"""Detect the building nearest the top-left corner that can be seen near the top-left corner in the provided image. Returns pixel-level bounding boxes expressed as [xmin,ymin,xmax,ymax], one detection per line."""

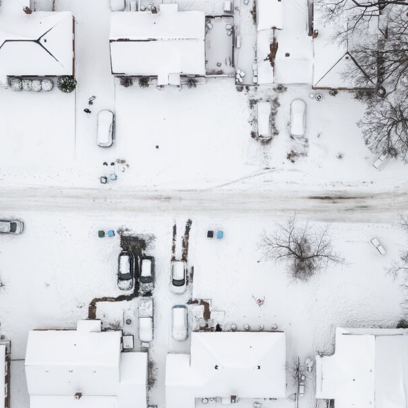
[0,0,74,87]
